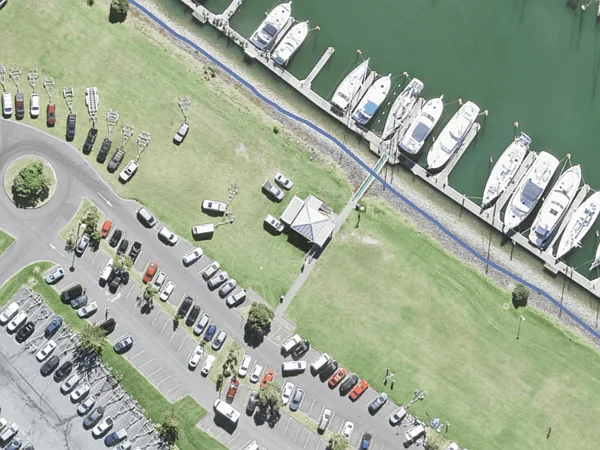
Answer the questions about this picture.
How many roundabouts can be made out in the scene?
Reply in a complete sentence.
There is 1 roundabout in the image.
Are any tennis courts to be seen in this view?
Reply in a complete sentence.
No, I can't see a single tennis court in this photo.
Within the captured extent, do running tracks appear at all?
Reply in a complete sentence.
No, no running track is visible in the scene.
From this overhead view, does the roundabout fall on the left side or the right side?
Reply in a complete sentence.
You can find the roundabout on the left side of the picture.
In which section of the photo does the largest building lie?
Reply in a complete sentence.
The largest building is in the center part of the image.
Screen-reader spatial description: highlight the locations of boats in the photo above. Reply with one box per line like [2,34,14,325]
[503,148,560,236]
[380,77,425,142]
[555,182,600,260]
[589,238,600,271]
[480,137,530,211]
[527,162,582,251]
[330,57,371,112]
[248,0,292,52]
[427,97,483,172]
[271,19,311,67]
[399,93,445,157]
[350,71,392,126]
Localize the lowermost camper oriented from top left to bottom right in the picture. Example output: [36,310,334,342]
[212,399,241,422]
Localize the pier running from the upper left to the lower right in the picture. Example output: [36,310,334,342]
[173,0,600,299]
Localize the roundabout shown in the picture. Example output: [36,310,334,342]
[3,155,57,209]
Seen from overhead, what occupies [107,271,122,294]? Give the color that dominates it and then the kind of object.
gray vehicle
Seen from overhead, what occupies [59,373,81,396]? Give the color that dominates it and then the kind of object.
white car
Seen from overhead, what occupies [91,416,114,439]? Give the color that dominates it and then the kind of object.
white truck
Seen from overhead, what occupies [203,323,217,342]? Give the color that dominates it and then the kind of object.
blue car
